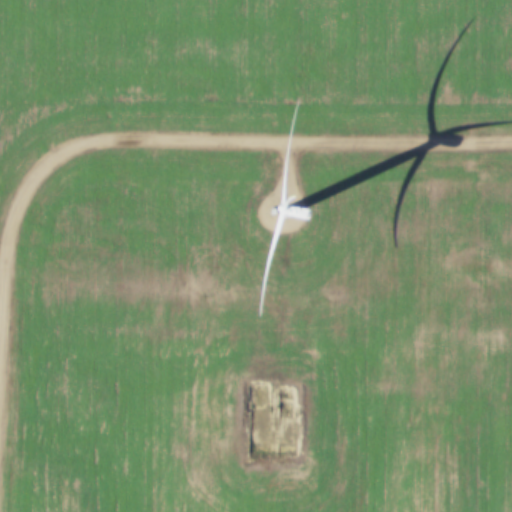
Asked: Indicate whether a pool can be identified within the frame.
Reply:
No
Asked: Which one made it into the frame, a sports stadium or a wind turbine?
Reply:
wind turbine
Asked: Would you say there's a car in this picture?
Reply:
No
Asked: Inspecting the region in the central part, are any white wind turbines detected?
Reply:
Yes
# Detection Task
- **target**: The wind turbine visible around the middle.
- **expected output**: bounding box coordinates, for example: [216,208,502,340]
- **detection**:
[260,99,312,315]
